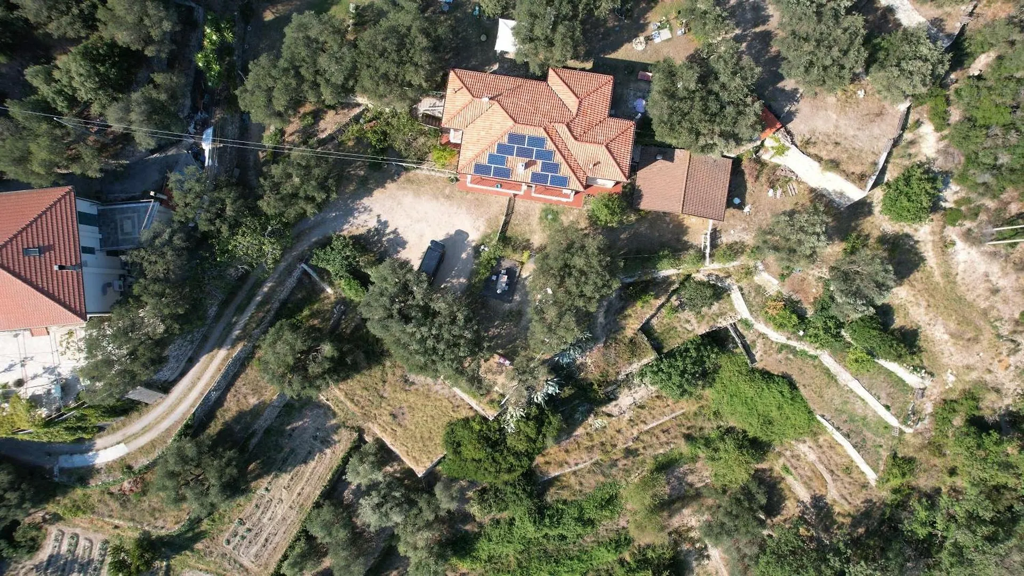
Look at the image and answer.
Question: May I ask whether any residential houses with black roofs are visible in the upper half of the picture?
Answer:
No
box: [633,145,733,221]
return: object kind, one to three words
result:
shed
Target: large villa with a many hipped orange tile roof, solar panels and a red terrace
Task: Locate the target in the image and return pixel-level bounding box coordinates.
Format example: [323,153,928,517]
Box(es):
[441,67,636,208]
